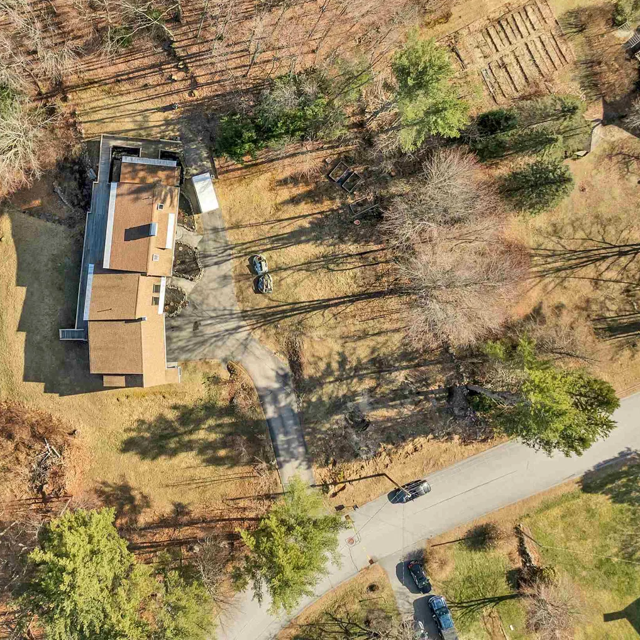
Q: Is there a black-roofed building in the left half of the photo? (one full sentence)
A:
No, I see no black-roofed building in the left half of the photo.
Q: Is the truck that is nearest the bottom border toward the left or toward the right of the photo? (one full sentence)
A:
You can find the truck that is nearest the bottom border on the right side of the picture.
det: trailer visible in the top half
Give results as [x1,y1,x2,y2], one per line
[192,172,222,220]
